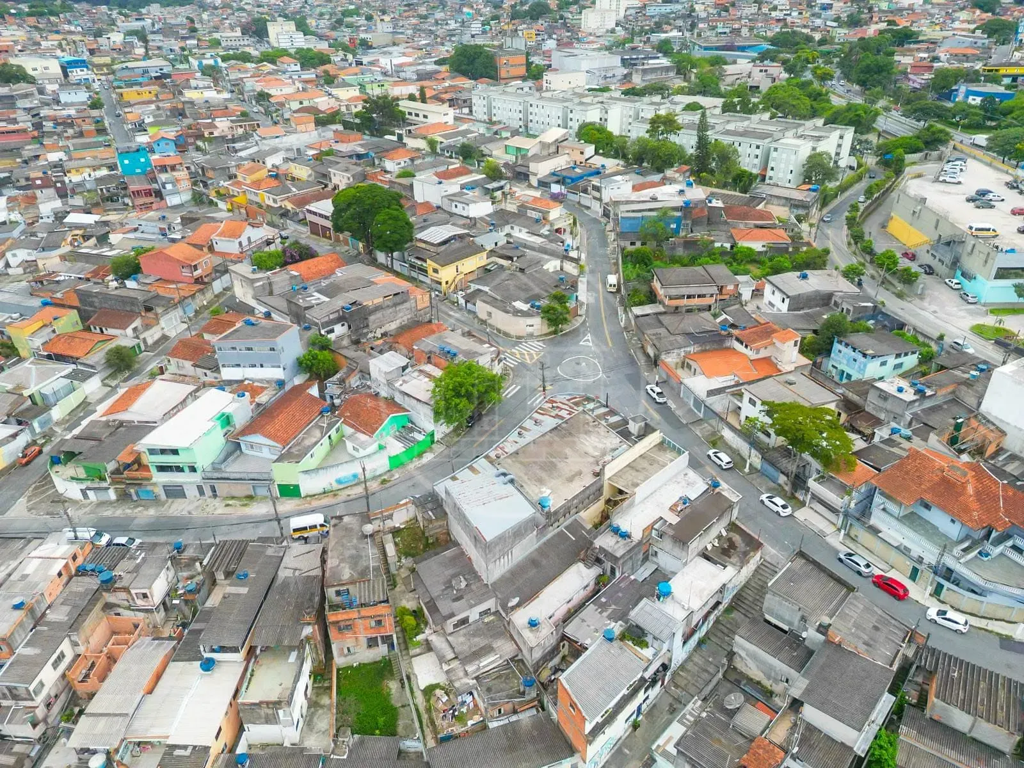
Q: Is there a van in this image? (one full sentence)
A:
Yes, there's a van down there.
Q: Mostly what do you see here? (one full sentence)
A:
The scene is dominated by buildings.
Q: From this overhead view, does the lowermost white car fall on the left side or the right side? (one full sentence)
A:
The lowermost white car is on the right side of the image.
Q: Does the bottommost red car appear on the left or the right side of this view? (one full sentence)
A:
The bottommost red car appears in the right half of the scene.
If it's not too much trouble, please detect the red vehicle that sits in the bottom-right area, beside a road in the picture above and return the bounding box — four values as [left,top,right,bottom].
[872,575,917,606]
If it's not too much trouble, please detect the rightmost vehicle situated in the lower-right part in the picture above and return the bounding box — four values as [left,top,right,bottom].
[924,605,973,635]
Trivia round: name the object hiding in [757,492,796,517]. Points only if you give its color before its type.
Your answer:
white car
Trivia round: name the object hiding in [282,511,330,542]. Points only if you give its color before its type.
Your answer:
white van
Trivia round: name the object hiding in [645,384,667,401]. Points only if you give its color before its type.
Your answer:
white car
